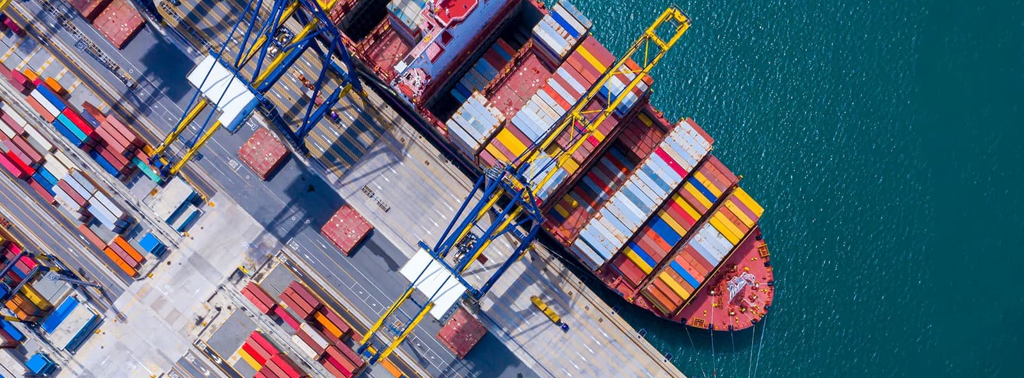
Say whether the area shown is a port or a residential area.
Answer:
port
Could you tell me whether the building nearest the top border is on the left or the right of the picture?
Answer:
left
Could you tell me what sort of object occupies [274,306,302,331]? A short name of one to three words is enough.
shipping container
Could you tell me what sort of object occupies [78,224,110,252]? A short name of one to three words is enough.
shipping container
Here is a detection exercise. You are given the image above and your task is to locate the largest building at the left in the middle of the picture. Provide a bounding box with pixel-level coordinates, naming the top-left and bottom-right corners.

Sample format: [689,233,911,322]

[148,177,200,234]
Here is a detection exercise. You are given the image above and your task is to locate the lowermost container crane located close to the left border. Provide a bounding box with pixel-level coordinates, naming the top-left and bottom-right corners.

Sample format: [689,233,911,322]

[0,250,71,332]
